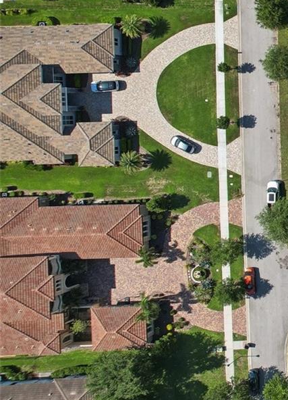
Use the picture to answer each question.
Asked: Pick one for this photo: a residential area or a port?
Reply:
residential area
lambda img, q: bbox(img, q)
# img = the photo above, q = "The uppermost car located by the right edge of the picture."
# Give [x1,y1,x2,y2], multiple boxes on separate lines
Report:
[266,180,279,206]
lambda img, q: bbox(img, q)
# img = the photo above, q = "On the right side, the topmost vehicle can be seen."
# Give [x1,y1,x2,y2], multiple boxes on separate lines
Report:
[169,136,195,154]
